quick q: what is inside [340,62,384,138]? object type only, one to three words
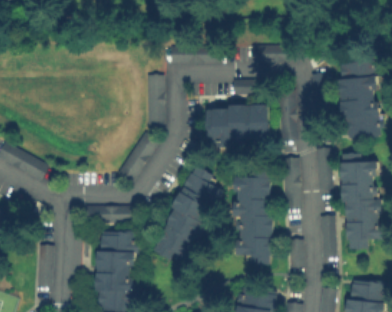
building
